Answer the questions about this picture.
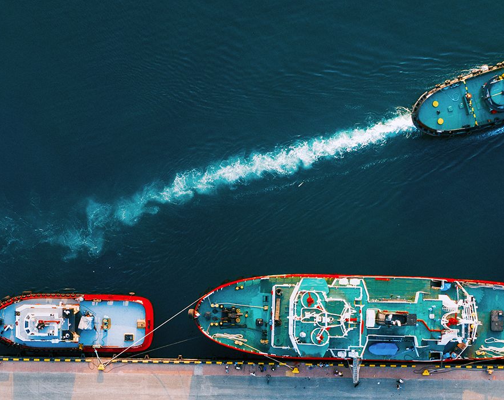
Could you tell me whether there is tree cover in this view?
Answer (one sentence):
No, no tree cover is visible.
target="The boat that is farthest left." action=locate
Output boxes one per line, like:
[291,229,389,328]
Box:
[0,292,154,354]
